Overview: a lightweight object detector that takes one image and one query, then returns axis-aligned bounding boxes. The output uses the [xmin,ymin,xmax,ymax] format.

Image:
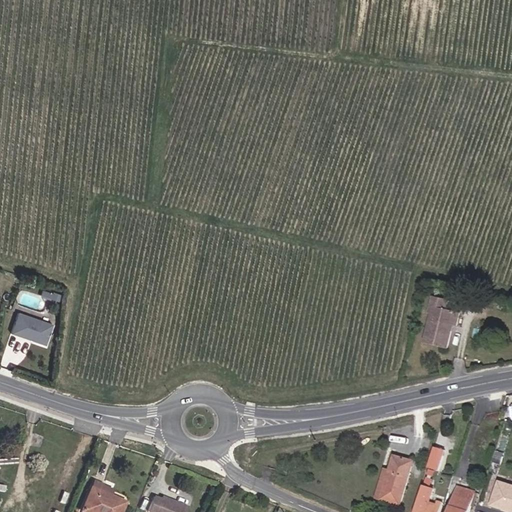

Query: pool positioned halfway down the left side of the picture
[17,292,44,310]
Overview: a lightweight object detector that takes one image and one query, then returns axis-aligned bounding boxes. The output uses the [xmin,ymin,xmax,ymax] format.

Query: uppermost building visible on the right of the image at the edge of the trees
[422,296,459,348]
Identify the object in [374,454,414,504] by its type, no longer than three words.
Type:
house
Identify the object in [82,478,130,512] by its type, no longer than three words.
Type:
house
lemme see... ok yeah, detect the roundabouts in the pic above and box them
[146,382,257,466]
